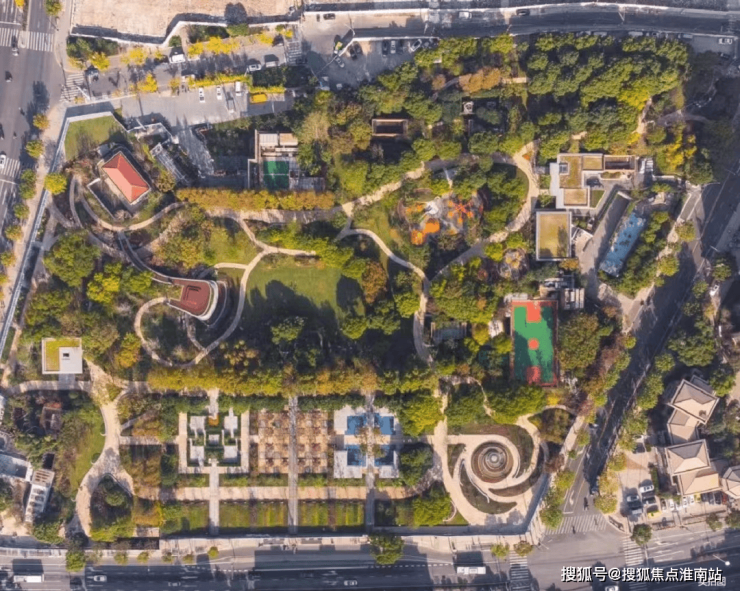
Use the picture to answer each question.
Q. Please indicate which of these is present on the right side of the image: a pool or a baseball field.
pool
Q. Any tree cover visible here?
Yes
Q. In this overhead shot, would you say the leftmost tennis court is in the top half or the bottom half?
top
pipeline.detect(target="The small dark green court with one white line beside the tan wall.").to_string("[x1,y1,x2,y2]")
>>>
[262,160,289,191]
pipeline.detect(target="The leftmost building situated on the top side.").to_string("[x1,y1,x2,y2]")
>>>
[98,152,154,213]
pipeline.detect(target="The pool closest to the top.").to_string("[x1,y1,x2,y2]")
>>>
[598,210,648,277]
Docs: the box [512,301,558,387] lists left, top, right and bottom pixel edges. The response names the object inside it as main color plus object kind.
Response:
green basketball court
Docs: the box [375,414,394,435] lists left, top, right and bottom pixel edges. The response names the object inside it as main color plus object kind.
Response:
blue swimming pool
